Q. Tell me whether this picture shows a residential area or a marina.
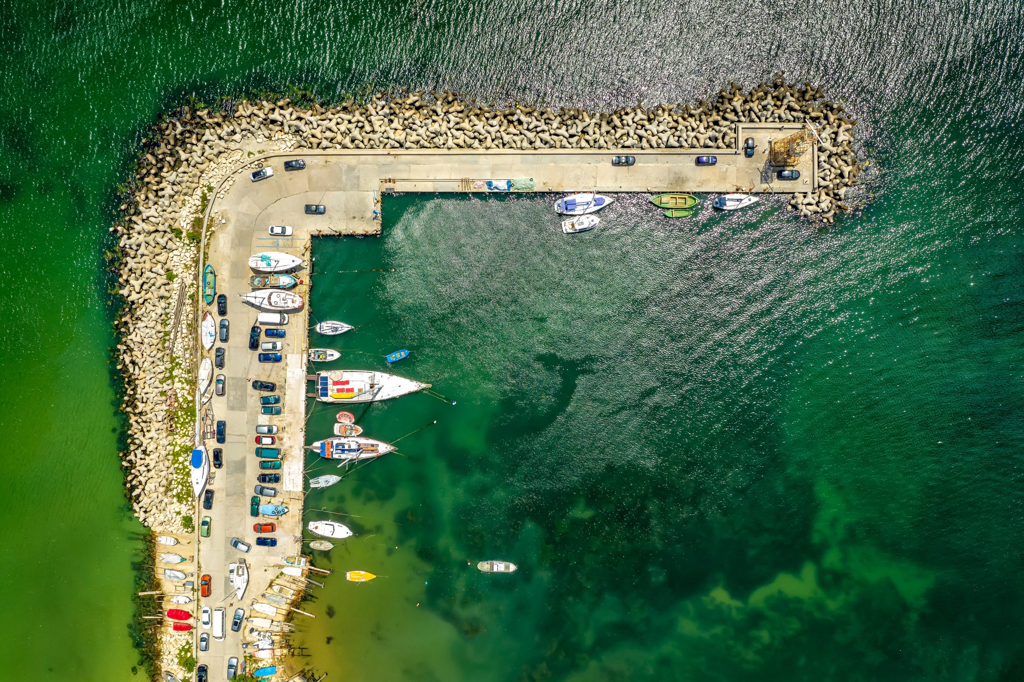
marina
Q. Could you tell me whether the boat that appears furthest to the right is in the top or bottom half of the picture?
top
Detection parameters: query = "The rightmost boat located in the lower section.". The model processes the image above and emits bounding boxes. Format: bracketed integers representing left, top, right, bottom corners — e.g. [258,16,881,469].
[477,560,518,575]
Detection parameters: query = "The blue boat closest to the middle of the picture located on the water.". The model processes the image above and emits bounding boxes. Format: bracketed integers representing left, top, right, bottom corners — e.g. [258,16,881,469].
[386,350,409,362]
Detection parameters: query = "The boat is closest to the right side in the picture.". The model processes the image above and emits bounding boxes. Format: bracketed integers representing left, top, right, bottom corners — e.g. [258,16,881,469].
[711,189,760,210]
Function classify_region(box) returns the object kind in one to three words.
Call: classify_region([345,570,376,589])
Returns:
boat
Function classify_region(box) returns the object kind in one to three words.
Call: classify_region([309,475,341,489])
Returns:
boat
